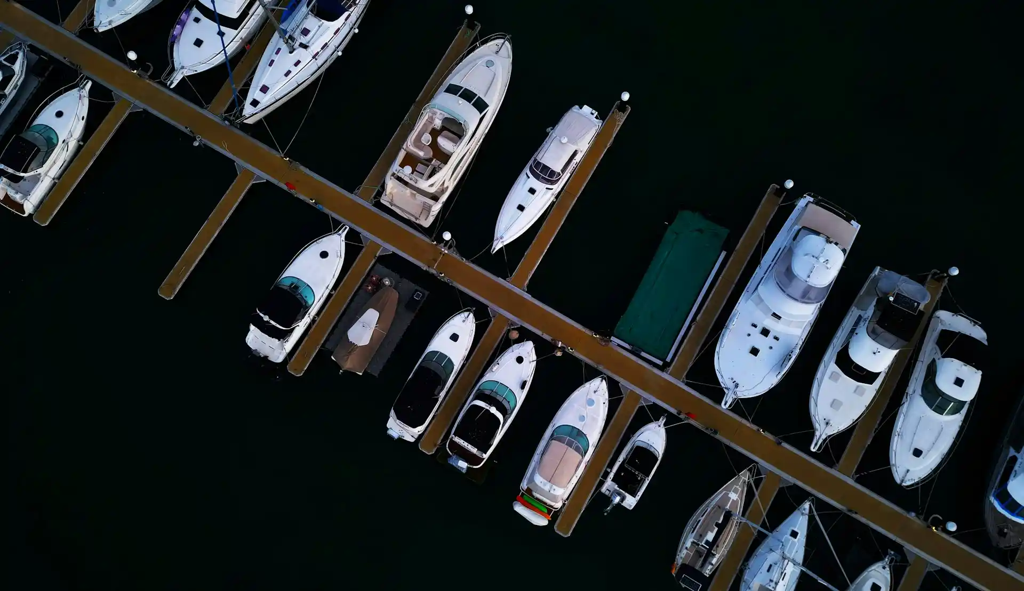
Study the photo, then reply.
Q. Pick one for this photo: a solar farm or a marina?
marina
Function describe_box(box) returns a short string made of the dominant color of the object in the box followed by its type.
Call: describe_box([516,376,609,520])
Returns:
white boat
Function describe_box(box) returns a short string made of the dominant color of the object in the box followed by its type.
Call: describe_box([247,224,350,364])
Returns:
white boat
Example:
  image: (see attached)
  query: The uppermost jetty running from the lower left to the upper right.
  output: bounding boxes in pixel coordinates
[60,0,96,36]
